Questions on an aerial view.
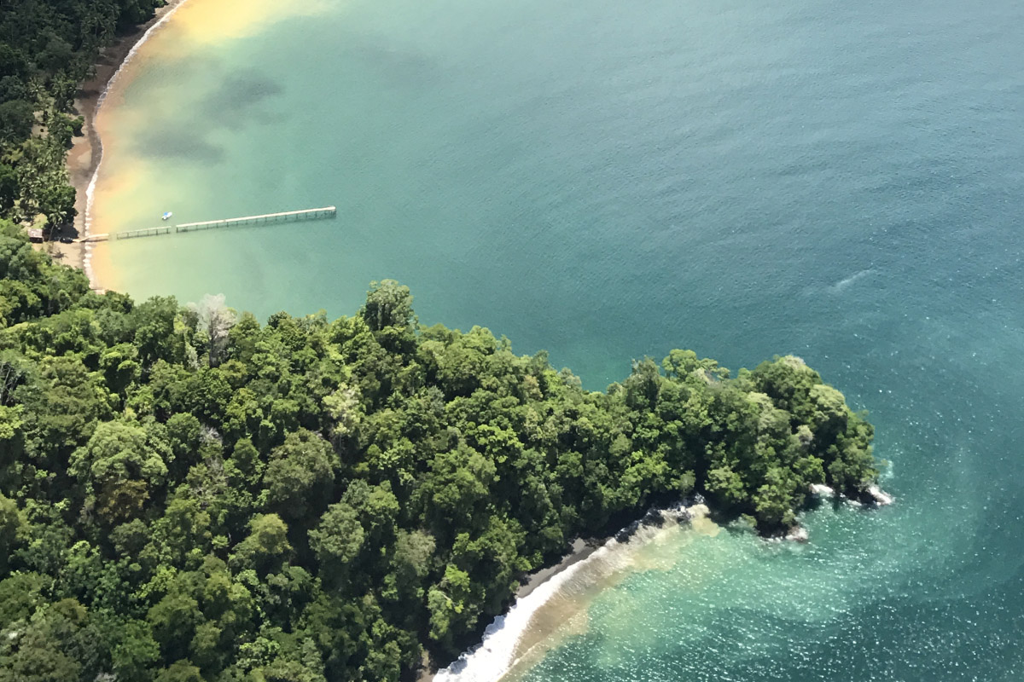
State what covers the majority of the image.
water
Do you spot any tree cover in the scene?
Yes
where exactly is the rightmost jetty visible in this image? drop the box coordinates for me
[176,205,338,233]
